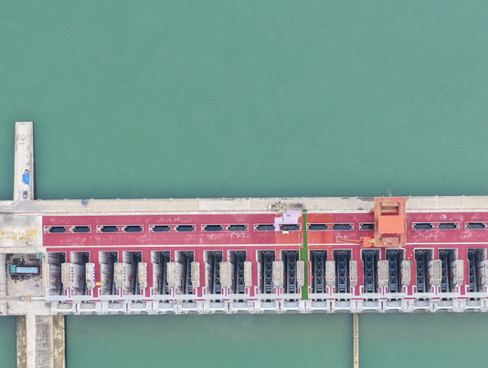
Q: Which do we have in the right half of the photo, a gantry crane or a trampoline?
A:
gantry crane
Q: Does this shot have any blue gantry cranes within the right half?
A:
No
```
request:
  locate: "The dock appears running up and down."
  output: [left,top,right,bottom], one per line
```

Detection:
[14,122,36,202]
